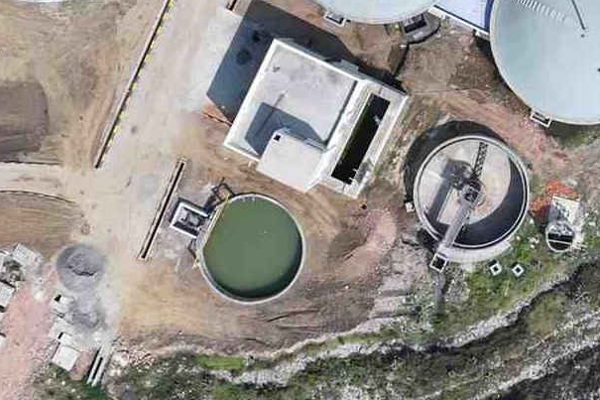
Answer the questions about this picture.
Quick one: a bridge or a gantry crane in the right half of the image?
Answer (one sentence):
There is a bridge in the right half of the image.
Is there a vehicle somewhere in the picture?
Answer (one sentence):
No, I can see no vehicle in this picture.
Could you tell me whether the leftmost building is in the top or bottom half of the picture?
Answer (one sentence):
It is in the top half that the leftmost building appears.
